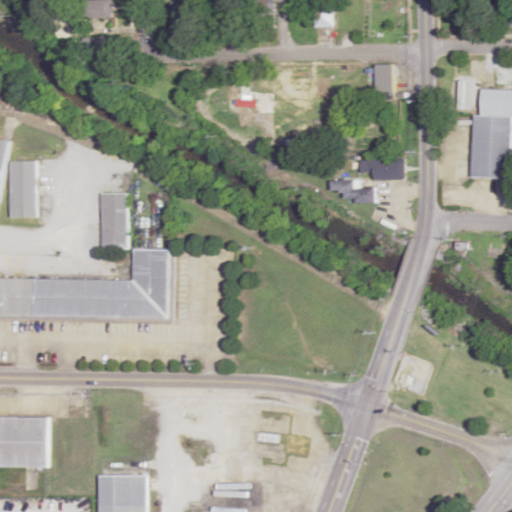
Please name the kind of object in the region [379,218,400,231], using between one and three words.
vehicle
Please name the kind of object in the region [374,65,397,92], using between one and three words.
building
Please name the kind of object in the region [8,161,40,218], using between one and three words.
shed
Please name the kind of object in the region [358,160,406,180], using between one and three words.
house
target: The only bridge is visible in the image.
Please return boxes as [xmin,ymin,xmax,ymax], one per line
[386,234,443,306]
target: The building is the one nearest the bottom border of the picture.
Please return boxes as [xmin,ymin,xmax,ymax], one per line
[98,472,150,512]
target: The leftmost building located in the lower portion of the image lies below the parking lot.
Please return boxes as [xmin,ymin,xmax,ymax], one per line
[0,416,52,470]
